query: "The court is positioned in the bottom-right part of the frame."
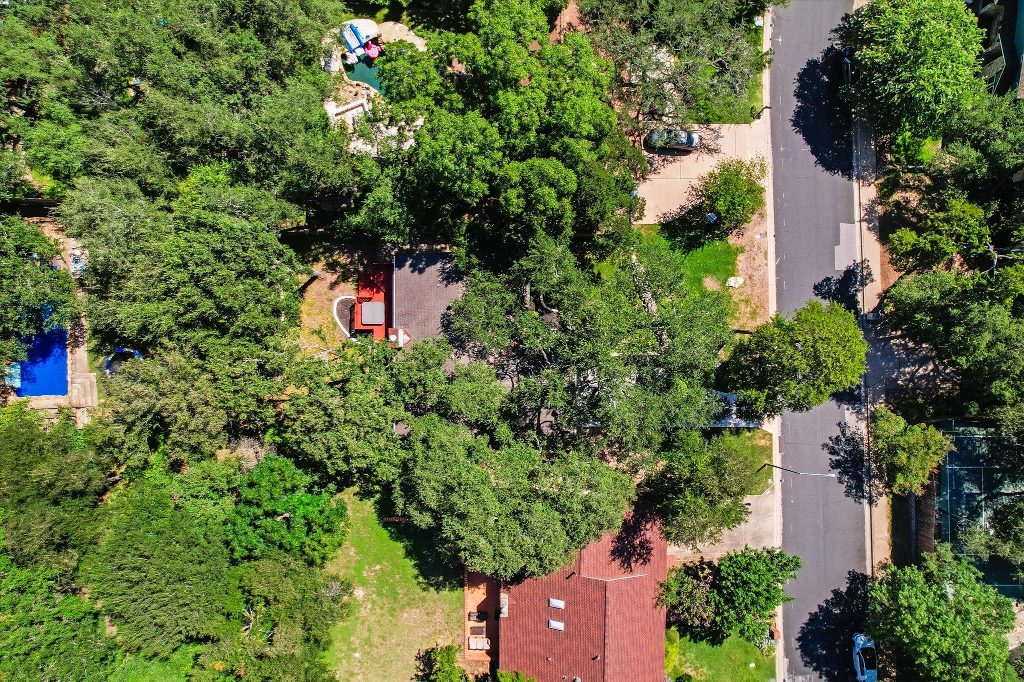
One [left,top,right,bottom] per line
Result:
[936,421,1024,598]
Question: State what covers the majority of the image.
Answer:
trees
